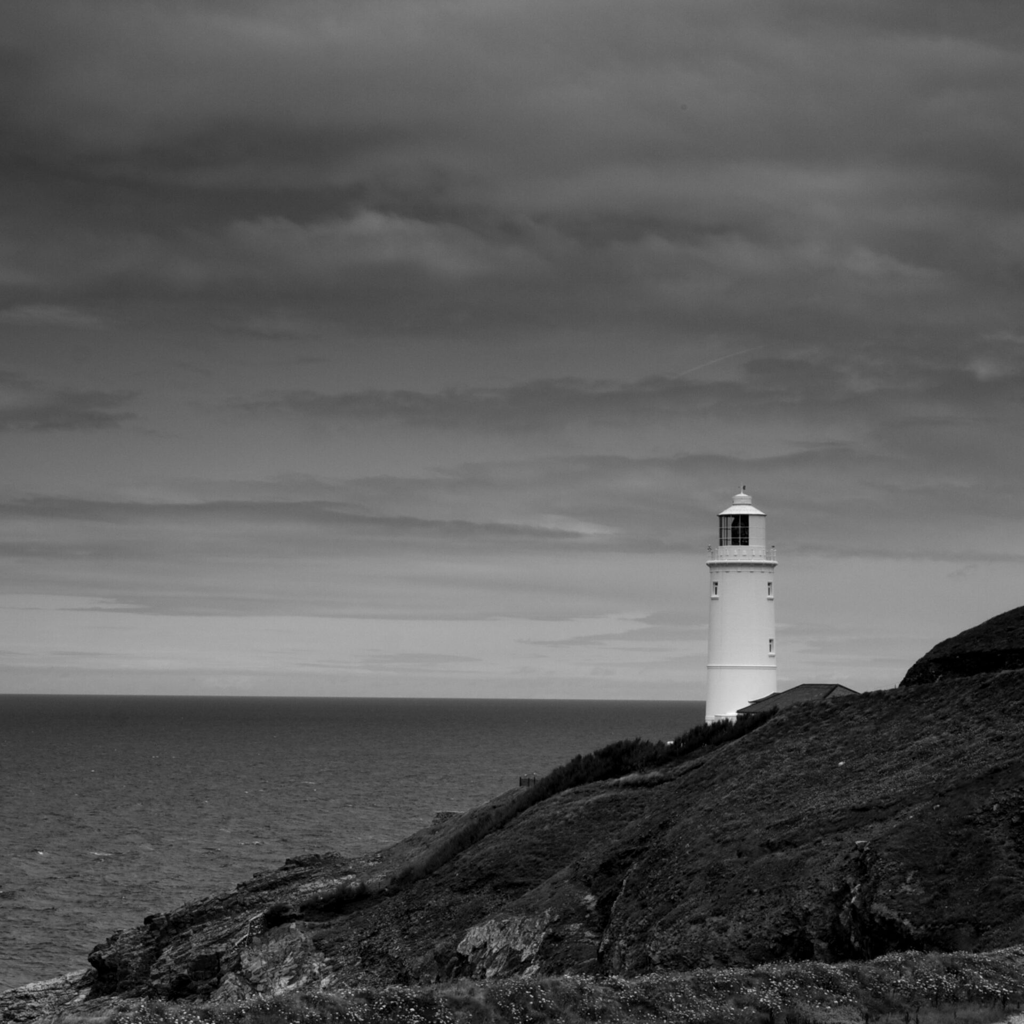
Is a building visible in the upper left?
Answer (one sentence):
No, I can find no building in the upper left.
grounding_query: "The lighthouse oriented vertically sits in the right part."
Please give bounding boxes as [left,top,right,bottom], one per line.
[704,485,778,732]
